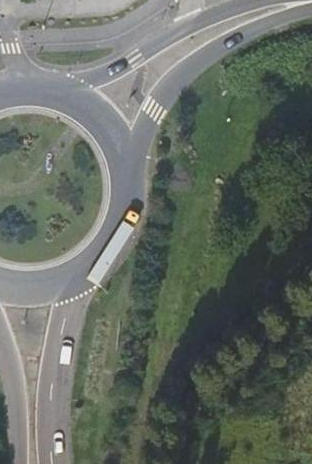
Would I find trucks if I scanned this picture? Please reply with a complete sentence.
Yes, a truck is visible in the scene.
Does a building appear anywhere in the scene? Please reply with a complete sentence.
No, the photo shows no building.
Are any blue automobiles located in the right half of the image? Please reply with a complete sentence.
No, there is no blue automobile in the right half of the image.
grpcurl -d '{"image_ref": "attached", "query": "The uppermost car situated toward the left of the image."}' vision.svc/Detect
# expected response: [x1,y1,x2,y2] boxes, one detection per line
[107,58,128,75]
